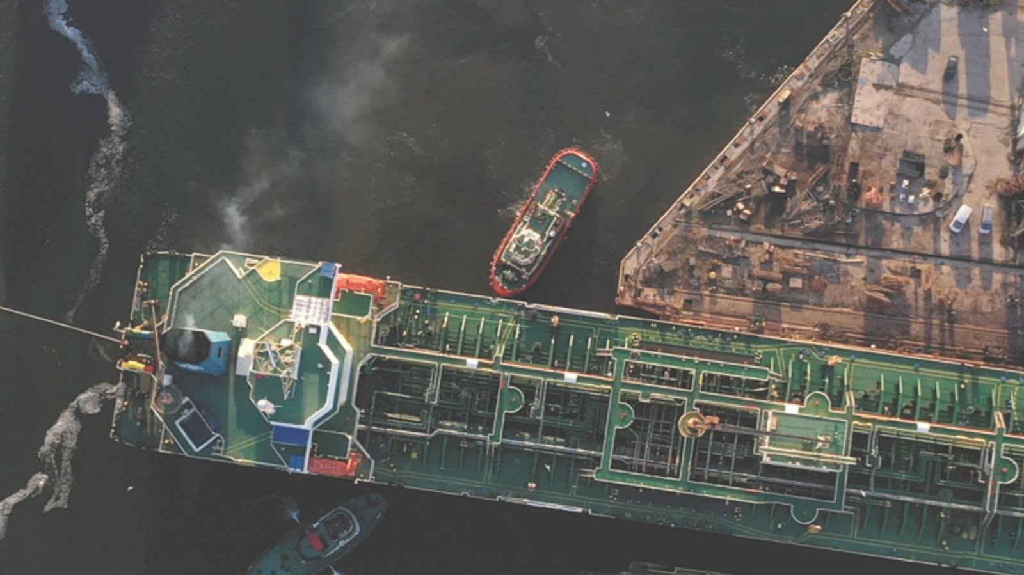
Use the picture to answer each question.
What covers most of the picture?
water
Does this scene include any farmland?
No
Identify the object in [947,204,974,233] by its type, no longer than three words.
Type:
vehicle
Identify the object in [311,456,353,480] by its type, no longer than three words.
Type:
boat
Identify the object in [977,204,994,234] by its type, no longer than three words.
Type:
vehicle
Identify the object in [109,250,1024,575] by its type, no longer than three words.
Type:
ship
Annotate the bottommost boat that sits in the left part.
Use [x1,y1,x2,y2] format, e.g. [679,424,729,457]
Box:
[246,489,397,575]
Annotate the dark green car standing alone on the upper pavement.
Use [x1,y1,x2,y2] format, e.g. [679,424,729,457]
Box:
[942,54,960,81]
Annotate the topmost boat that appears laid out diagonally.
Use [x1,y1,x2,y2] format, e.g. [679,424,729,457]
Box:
[489,148,600,298]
